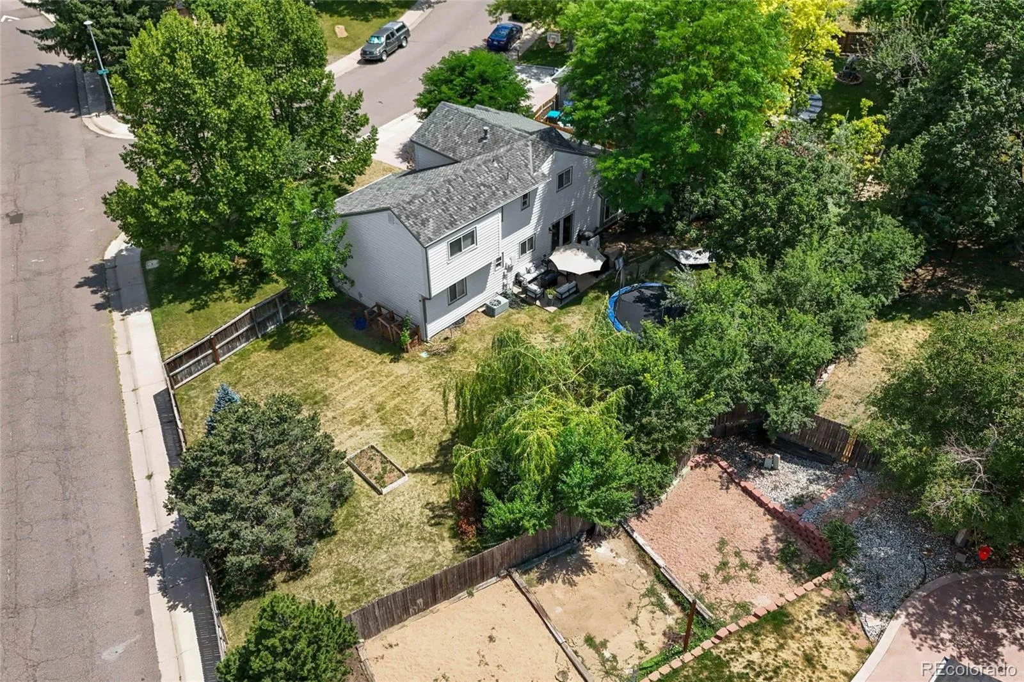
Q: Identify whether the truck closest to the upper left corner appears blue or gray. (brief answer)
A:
gray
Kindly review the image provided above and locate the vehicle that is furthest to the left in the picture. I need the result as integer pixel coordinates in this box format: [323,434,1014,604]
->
[356,21,408,60]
